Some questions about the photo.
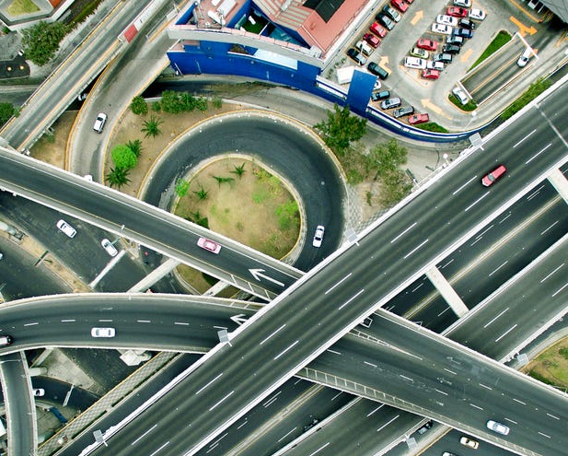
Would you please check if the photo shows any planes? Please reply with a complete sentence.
No, no plane is visible in the scene.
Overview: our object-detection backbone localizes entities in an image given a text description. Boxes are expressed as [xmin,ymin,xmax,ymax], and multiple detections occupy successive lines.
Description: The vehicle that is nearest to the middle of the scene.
[312,225,325,249]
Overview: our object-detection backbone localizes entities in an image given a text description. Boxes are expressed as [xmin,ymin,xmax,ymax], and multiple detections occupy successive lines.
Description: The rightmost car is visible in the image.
[516,46,532,69]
